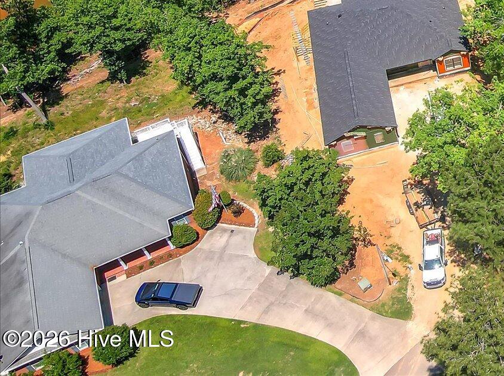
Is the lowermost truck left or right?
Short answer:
left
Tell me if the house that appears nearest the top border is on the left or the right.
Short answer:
right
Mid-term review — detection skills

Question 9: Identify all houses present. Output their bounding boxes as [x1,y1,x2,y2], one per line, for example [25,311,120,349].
[0,106,211,376]
[309,0,472,160]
